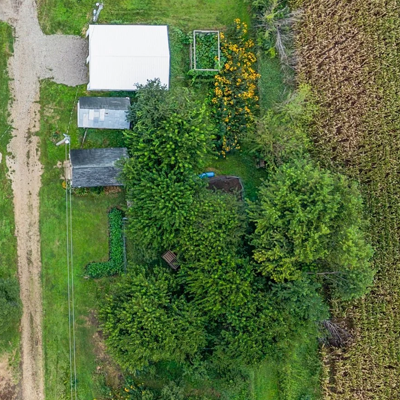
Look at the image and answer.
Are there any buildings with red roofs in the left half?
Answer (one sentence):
No, there's no building with a red roof to be seen in the left half.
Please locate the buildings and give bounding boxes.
[89,25,170,90]
[78,97,130,129]
[72,148,130,187]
